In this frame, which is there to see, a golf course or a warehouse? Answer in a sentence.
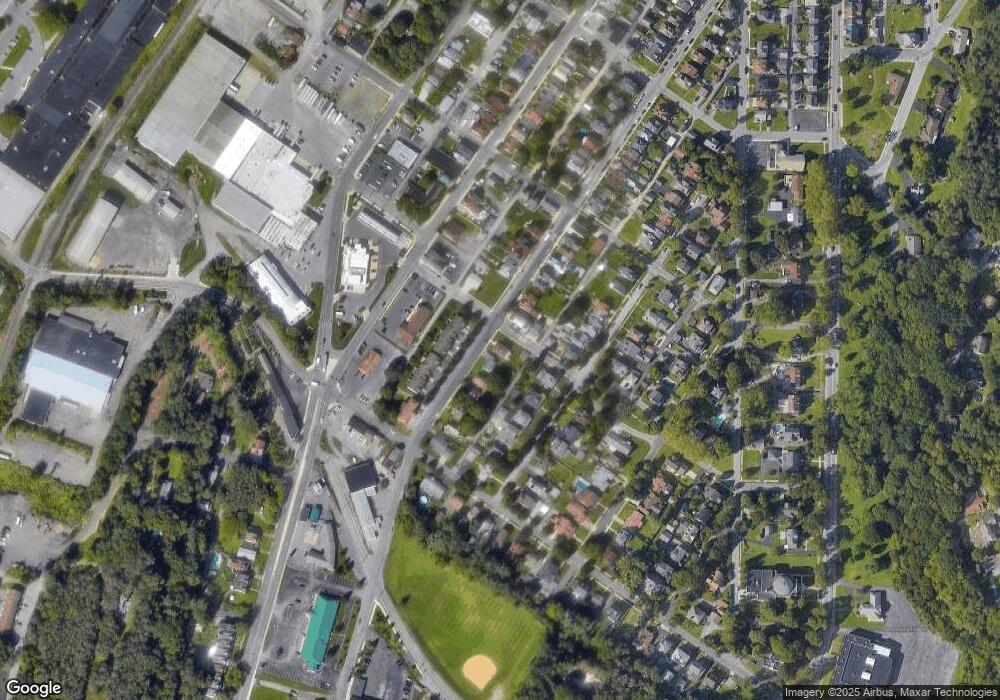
The one in the frame is a warehouse.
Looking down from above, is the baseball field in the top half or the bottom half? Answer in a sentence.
The baseball field is in the bottom half of the image.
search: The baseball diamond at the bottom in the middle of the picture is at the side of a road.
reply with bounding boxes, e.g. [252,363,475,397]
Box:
[382,504,546,700]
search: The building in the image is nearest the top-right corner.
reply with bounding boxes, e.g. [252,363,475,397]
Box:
[950,26,970,58]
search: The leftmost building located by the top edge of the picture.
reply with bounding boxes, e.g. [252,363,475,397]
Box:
[0,0,176,193]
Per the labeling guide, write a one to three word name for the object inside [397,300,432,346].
building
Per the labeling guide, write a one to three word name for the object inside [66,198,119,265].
shed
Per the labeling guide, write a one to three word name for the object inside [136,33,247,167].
warehouse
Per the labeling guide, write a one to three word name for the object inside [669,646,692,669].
house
